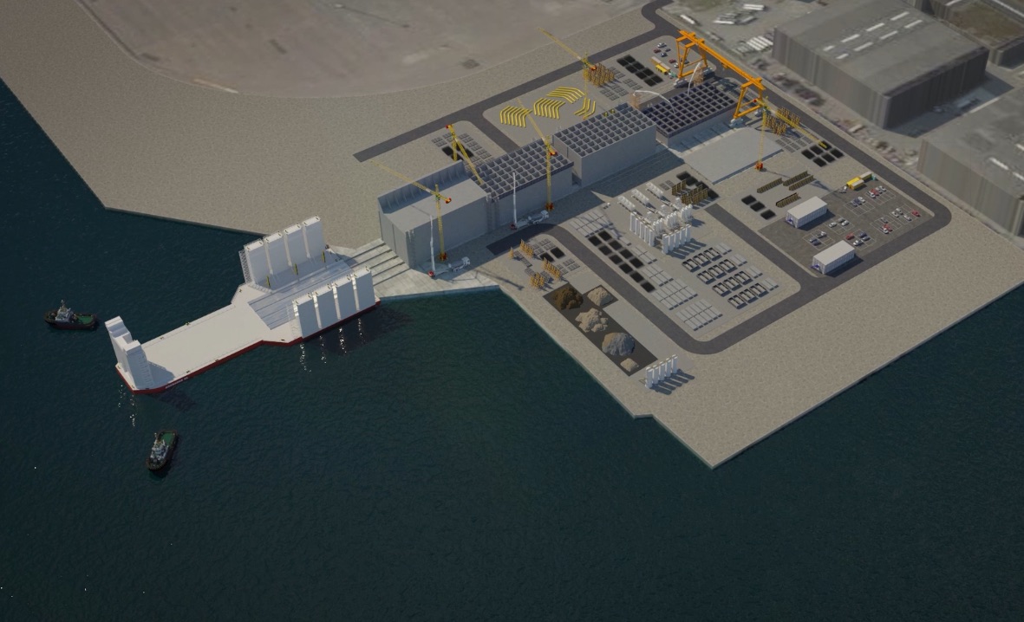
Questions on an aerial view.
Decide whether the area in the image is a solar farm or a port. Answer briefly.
port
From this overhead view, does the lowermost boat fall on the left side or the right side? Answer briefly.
left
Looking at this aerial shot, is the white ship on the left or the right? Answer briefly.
left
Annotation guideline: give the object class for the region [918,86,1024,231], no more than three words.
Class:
building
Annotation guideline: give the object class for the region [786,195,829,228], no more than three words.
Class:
shed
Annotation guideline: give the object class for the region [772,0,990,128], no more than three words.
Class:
warehouse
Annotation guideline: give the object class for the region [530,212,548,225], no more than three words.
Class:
vehicle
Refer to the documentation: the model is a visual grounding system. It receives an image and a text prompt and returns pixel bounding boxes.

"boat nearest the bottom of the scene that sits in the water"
[145,425,179,469]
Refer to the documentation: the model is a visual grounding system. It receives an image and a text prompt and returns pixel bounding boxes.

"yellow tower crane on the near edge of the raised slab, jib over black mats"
[752,95,829,168]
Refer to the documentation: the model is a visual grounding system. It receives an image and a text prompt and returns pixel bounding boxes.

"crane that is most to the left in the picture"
[370,159,452,261]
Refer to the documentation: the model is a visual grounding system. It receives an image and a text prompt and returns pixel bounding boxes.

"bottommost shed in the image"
[812,240,857,274]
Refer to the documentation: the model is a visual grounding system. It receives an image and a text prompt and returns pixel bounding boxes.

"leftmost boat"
[39,303,98,328]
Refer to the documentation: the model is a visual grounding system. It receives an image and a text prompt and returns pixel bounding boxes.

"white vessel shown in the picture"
[103,215,381,395]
